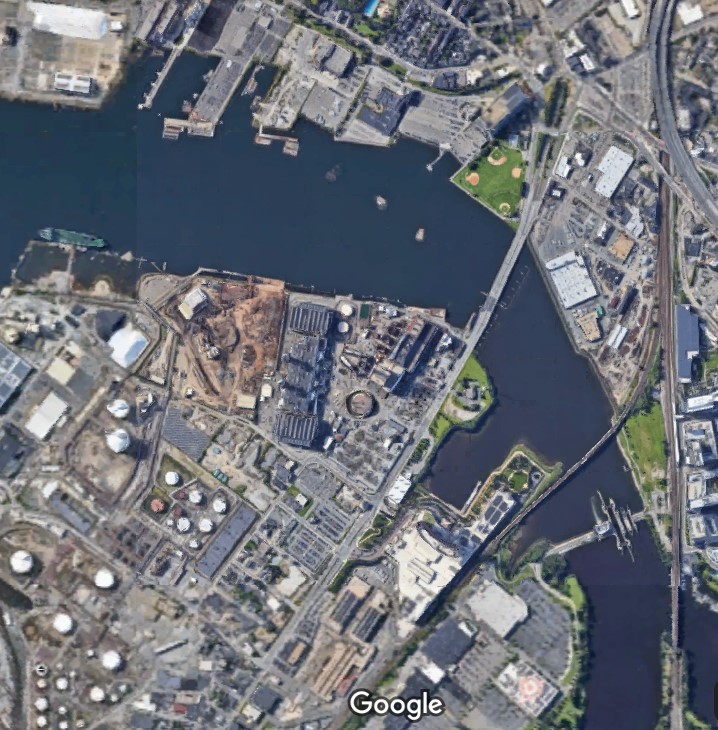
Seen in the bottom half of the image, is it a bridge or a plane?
bridge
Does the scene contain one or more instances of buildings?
Yes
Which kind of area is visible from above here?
port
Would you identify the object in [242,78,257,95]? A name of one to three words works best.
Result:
ship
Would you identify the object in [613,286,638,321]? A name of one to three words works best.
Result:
shed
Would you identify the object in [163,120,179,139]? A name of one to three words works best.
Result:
ship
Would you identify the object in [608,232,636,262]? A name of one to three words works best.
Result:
building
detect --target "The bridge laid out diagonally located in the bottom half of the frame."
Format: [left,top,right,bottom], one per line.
[498,415,625,538]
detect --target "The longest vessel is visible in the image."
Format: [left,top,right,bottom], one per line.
[39,229,106,247]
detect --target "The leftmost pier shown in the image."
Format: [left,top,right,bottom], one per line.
[11,240,86,282]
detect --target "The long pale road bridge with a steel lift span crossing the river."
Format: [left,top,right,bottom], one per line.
[463,193,536,350]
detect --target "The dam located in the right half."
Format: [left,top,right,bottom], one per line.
[542,488,651,562]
